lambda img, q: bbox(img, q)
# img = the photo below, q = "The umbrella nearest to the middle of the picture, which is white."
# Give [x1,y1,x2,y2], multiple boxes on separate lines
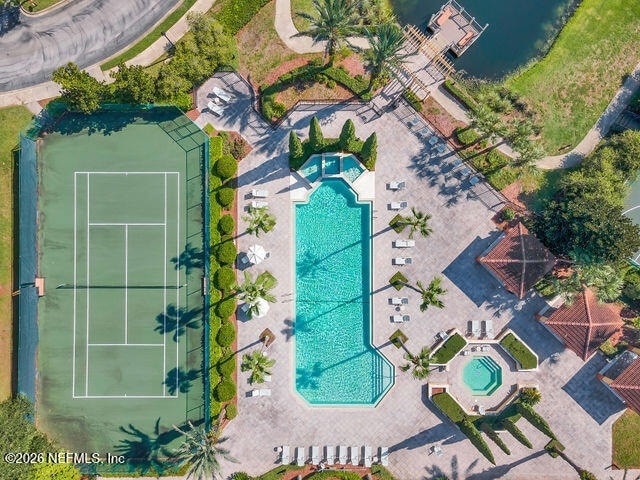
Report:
[246,244,266,264]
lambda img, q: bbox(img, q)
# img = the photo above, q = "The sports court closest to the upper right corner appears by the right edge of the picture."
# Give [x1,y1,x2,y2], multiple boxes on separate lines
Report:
[614,161,640,271]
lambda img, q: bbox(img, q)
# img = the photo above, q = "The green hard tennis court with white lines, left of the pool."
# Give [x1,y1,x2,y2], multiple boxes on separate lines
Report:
[36,112,209,458]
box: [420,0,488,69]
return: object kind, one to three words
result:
pier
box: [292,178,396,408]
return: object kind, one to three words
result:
swimming pool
